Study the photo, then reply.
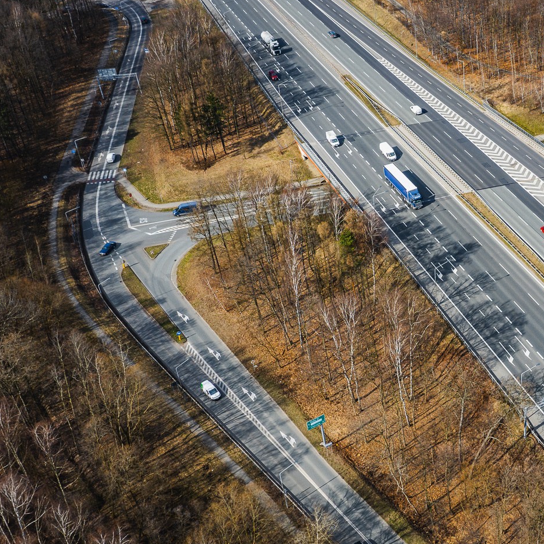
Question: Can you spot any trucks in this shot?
Yes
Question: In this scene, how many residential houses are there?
0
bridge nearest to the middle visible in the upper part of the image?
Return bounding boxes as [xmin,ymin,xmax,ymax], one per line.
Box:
[284,130,369,230]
